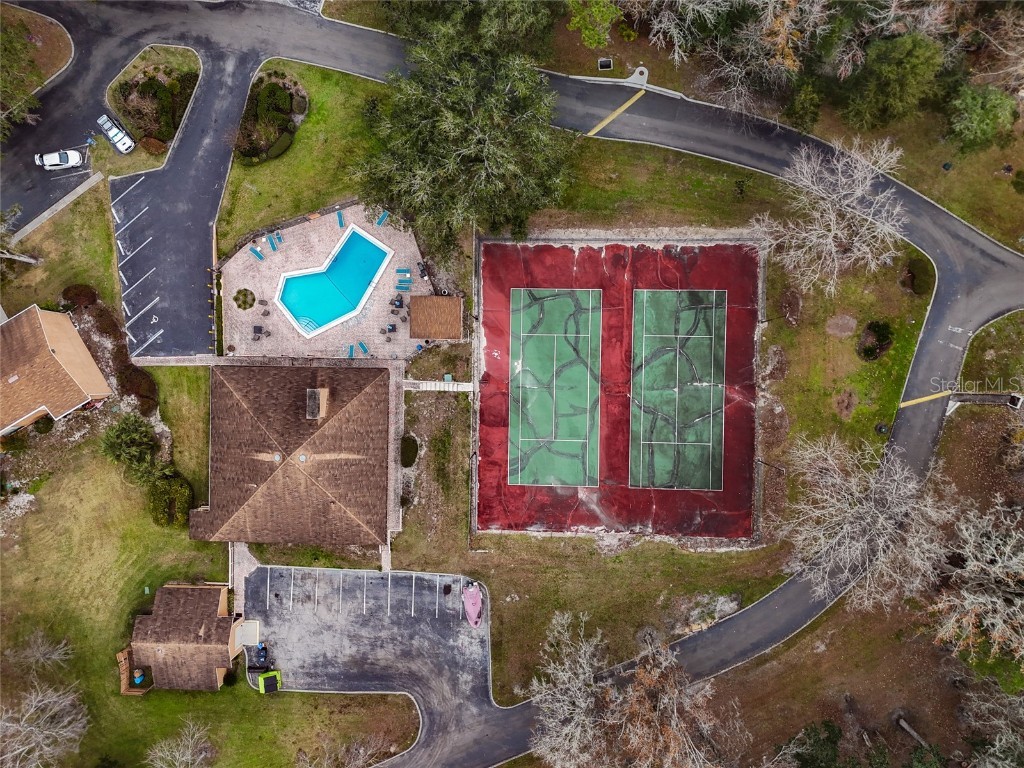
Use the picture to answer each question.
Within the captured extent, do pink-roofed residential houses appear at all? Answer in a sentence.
No, no pink-roofed residential house is visible in the scene.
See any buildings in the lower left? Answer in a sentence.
Yes, a building shows up in the lower left.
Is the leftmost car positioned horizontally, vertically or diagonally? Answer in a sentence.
The leftmost car runs horizontally in the image.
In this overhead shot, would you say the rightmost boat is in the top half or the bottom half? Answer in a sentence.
Seen from above, the rightmost boat lies in the bottom half of the view.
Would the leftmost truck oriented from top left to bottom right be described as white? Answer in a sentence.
Yes, white is the color of the leftmost truck oriented from top left to bottom right.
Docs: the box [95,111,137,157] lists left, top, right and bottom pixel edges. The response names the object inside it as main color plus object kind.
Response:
white truck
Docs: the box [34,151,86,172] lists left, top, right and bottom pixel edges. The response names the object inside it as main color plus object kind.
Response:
white car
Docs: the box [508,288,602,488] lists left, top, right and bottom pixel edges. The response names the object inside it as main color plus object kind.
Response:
green tennis court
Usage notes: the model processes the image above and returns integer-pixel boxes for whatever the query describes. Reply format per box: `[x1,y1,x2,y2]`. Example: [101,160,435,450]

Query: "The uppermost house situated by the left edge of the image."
[0,304,112,436]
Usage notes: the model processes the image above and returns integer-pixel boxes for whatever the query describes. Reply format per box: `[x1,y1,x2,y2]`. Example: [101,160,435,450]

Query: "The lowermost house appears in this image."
[132,583,245,690]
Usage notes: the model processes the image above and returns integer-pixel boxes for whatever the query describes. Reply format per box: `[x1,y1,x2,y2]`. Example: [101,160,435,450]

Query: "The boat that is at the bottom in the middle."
[461,584,483,632]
